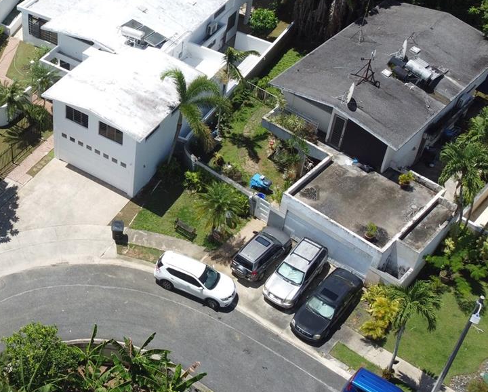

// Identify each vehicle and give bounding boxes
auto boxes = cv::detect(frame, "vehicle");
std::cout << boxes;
[233,226,297,287]
[336,358,409,392]
[299,263,368,338]
[274,232,339,304]
[152,251,240,313]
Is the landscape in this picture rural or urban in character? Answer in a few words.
urban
